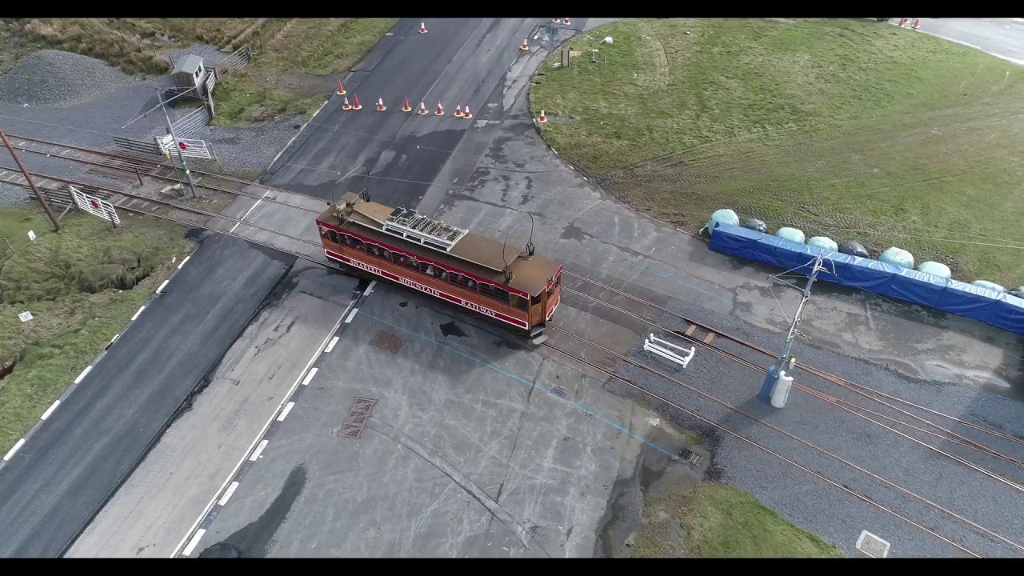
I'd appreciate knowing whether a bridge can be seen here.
No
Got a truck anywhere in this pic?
No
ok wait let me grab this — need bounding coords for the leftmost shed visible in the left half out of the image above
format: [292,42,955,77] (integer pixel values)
[169,51,203,101]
